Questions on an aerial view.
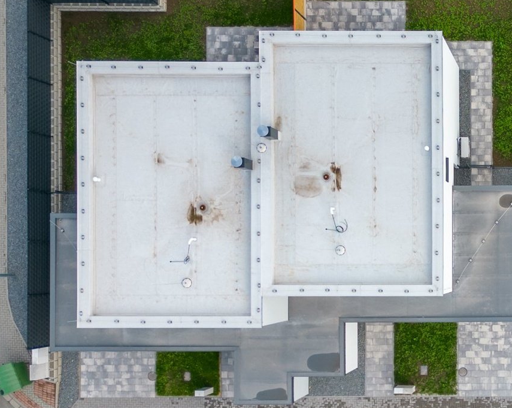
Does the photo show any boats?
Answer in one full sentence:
No, I can see no boat in this picture.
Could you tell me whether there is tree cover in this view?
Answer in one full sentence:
No, there's no tree cover in this view.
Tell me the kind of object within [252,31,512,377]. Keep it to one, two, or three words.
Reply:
house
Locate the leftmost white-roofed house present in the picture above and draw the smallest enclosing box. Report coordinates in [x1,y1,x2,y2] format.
[49,61,309,405]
